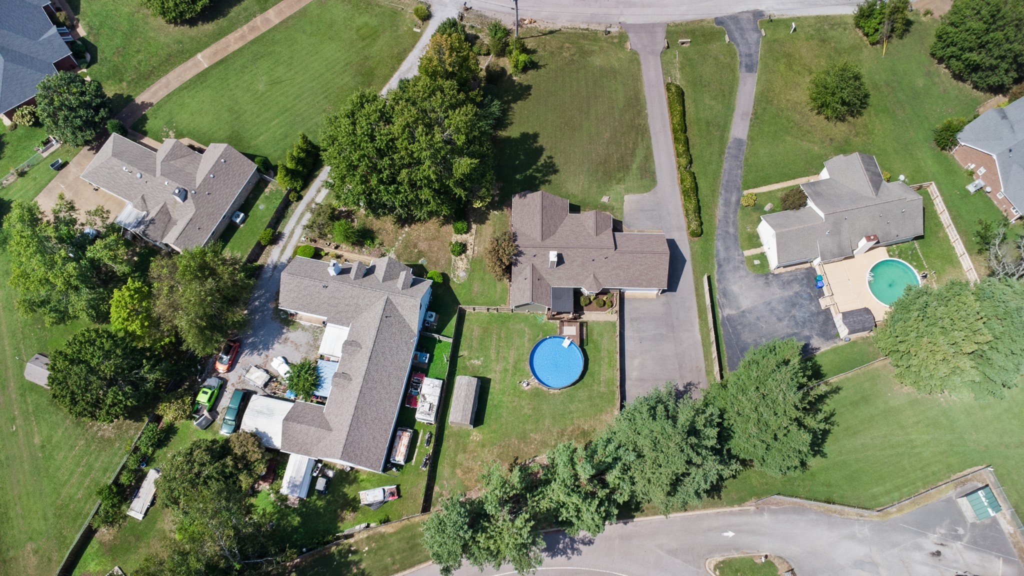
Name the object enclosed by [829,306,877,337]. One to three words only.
shed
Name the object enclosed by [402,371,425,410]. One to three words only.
car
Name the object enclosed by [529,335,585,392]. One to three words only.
swimming pool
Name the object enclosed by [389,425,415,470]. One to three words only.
vehicle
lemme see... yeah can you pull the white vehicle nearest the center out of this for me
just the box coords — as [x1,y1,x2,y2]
[414,375,444,428]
